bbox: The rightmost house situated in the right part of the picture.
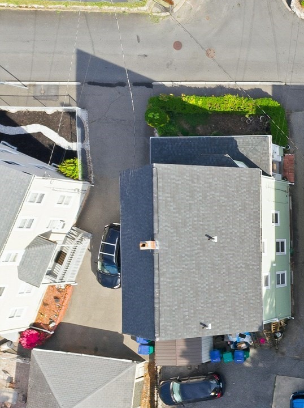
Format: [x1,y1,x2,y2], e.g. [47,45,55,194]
[120,135,295,366]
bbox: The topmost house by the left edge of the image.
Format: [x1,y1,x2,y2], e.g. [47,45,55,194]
[0,142,98,331]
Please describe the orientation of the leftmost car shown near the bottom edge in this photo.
horizontally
